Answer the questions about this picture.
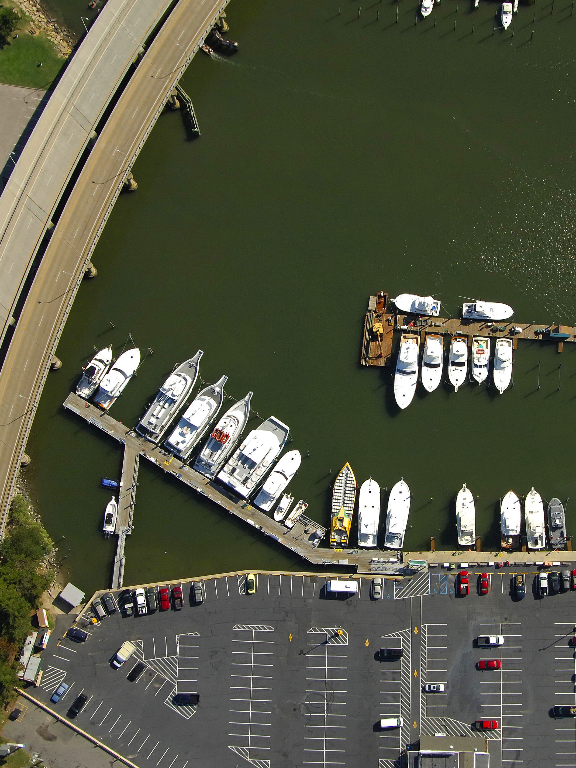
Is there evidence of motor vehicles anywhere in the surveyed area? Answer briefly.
Yes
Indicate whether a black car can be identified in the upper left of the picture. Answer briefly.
No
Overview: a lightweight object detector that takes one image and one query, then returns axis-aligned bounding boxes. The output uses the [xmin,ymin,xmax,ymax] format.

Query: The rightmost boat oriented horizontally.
[461,298,513,319]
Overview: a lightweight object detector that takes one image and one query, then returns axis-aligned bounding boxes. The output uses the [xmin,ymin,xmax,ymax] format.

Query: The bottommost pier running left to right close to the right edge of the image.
[397,313,576,342]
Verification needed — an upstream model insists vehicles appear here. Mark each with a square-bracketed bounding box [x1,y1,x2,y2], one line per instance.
[135,588,146,614]
[50,681,69,703]
[172,695,199,704]
[372,579,381,599]
[478,635,504,645]
[68,695,87,717]
[160,588,170,610]
[323,580,359,591]
[460,571,469,595]
[380,649,403,659]
[112,642,134,667]
[478,661,501,670]
[172,587,183,609]
[539,573,549,596]
[554,706,576,716]
[550,571,560,592]
[65,629,89,642]
[380,717,404,727]
[102,592,116,611]
[426,684,444,693]
[476,721,498,730]
[93,599,108,619]
[480,573,488,593]
[515,575,524,599]
[123,589,134,615]
[146,588,158,611]
[192,582,204,604]
[561,571,572,590]
[127,661,145,681]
